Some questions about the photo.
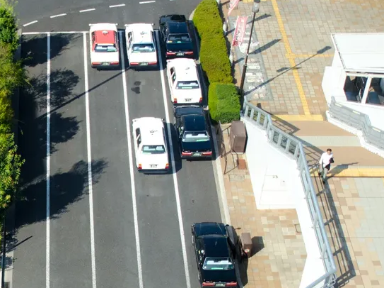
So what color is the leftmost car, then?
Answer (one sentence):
In this view, the leftmost car is white.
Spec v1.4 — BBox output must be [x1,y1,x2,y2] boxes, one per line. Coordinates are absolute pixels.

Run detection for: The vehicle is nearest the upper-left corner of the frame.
[87,16,118,66]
